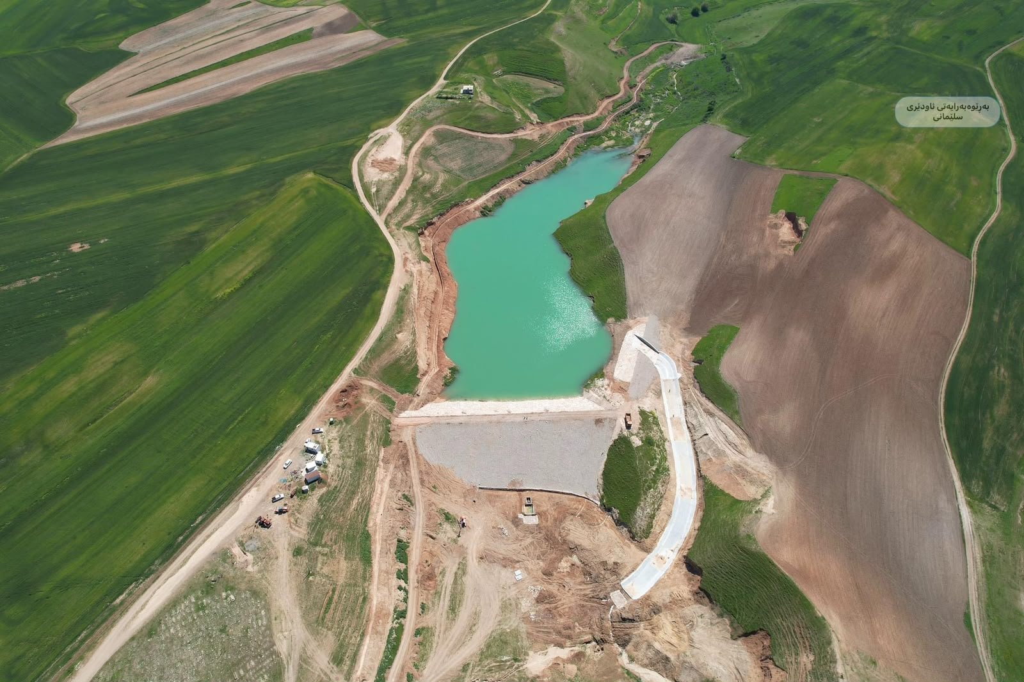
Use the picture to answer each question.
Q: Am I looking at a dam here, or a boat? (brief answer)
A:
dam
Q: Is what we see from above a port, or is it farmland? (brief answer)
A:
farmland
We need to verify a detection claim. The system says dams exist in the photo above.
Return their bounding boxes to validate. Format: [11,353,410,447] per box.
[393,397,622,505]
